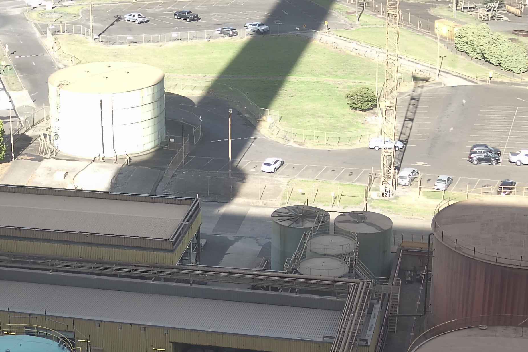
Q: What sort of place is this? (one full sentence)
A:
What you see here is an industrial area.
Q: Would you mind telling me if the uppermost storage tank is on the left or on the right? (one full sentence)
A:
The uppermost storage tank sits on the left side.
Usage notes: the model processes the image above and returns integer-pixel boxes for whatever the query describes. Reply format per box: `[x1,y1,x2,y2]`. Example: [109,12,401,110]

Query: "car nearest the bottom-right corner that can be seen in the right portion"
[498,178,517,195]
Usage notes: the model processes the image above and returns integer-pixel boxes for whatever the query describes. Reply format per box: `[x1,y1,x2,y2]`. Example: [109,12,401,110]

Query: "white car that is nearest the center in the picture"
[262,158,283,172]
